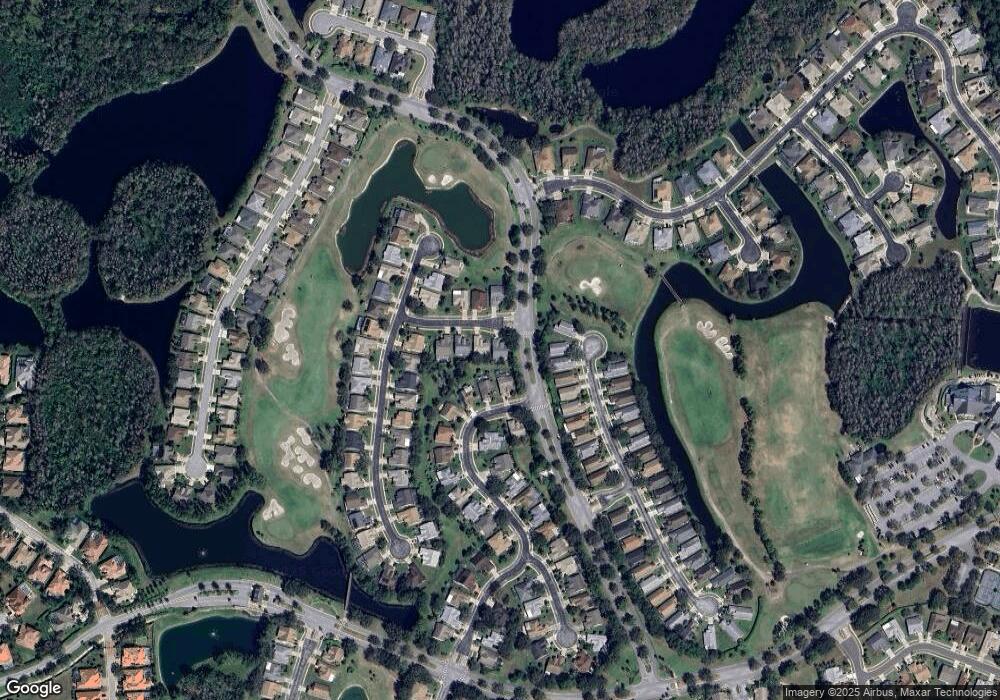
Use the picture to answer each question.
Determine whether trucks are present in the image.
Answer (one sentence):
No, there appears to be no truck in this shot.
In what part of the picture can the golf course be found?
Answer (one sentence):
The golf course appears toward the center of the photo.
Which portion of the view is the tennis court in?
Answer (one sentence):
The tennis court appears toward the bottom right of the photo.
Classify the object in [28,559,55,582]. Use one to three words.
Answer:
house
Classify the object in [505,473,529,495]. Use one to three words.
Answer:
house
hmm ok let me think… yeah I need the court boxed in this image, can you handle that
[974,567,1000,610]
